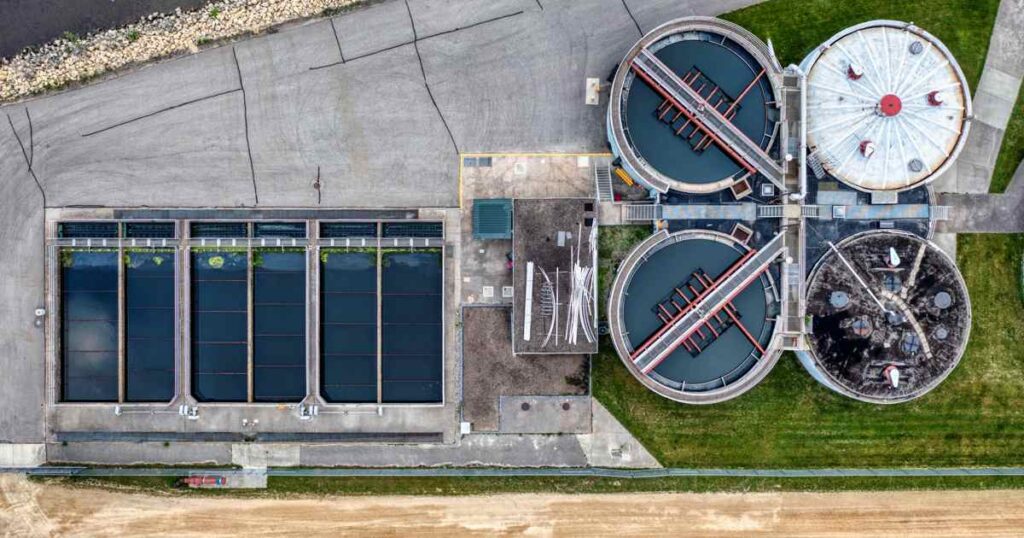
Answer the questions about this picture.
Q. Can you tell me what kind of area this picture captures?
industrial area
